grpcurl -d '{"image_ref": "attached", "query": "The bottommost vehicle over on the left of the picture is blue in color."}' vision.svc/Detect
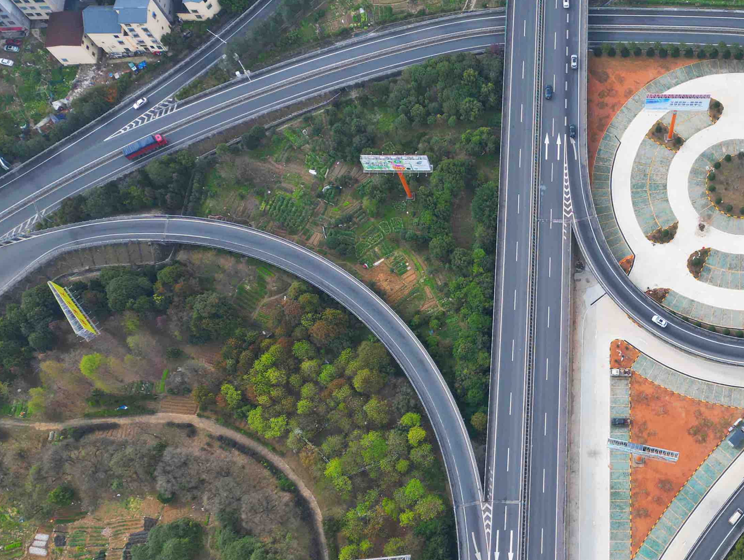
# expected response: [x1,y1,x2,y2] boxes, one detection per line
[125,131,168,158]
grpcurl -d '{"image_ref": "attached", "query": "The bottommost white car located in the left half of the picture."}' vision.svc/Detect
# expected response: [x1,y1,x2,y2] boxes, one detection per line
[133,96,150,109]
